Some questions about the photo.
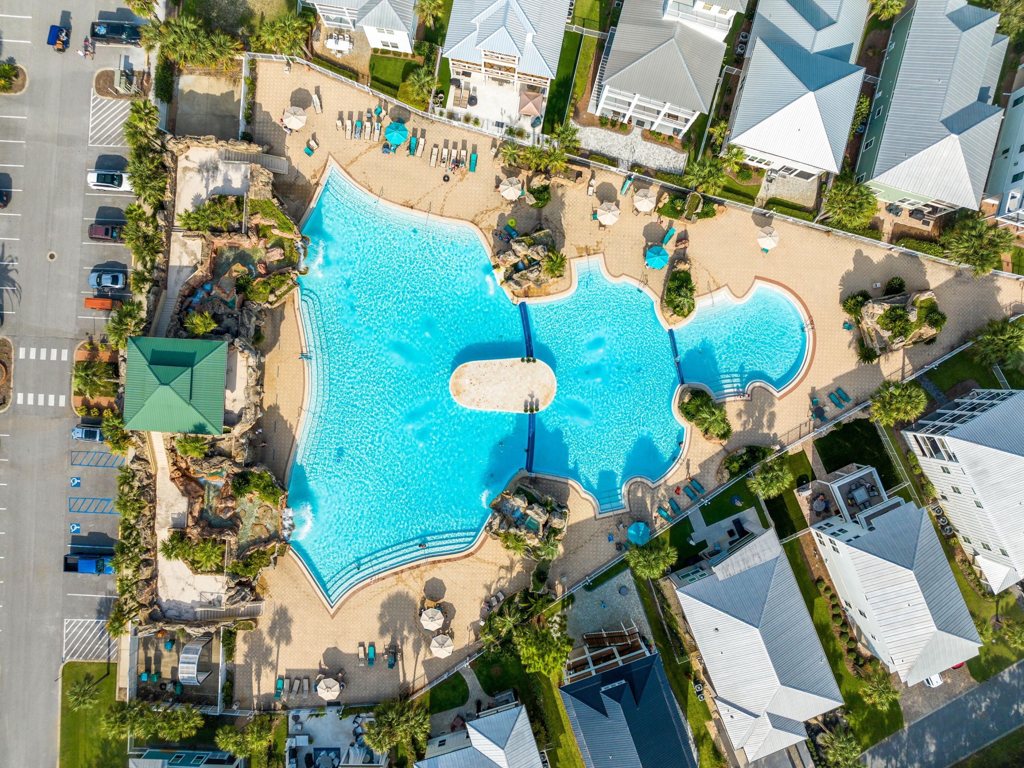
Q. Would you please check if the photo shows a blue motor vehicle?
Yes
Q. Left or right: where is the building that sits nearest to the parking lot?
left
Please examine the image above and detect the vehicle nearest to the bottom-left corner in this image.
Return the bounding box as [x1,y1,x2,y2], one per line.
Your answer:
[63,551,115,575]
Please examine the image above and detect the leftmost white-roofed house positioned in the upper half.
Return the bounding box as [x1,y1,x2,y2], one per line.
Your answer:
[306,0,421,53]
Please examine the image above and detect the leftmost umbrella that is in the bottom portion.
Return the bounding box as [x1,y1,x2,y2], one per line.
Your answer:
[318,676,341,700]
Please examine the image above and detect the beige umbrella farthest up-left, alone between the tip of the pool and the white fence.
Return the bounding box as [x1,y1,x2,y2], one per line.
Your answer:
[284,107,308,131]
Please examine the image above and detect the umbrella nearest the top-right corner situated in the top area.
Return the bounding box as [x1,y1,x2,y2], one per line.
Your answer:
[755,227,778,250]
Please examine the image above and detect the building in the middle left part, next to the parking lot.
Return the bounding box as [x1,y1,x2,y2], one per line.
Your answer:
[123,336,239,436]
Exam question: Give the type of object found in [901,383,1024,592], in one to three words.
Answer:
house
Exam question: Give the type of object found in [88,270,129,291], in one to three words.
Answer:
car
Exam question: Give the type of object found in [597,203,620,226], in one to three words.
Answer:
umbrella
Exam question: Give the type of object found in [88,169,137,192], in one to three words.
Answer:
car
